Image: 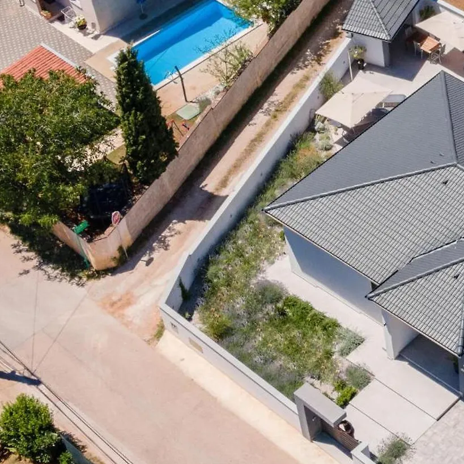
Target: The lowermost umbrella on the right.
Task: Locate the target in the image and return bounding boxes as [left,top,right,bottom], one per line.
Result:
[316,50,397,128]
